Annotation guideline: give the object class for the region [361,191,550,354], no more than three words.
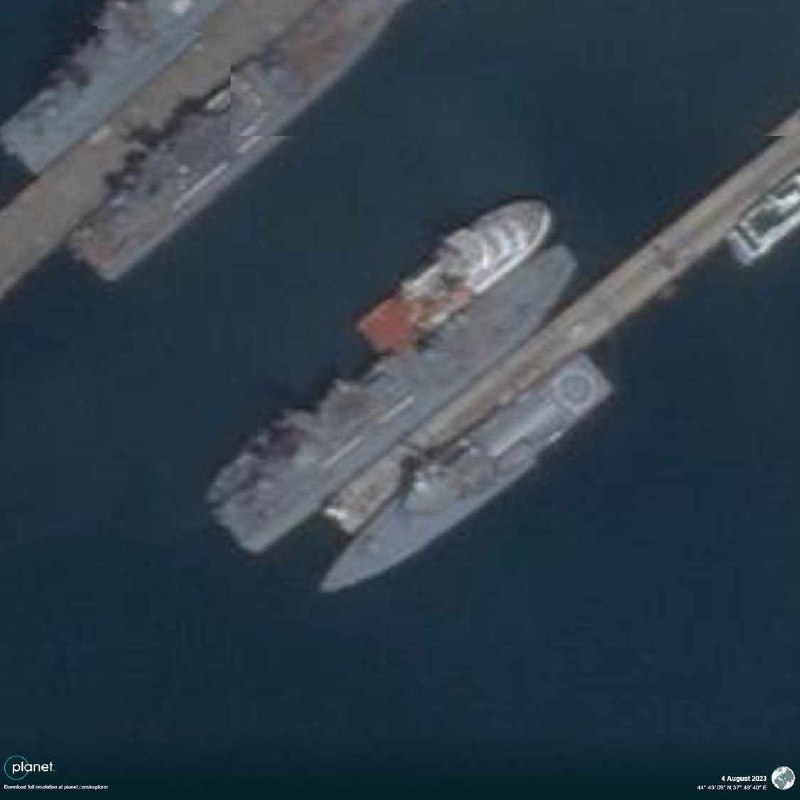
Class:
boat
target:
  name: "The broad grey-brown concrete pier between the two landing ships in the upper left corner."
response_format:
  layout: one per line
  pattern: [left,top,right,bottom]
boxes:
[0,0,335,300]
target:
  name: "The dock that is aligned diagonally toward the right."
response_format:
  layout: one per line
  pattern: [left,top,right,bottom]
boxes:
[325,111,800,538]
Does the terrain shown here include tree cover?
No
